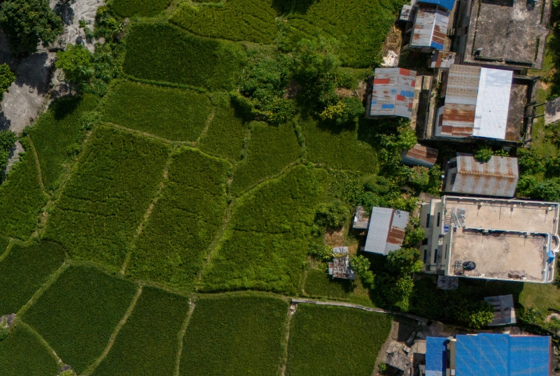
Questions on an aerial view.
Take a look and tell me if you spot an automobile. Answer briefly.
No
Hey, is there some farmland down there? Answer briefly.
Yes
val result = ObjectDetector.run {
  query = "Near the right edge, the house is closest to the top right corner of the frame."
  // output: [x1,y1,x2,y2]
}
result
[451,0,551,74]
